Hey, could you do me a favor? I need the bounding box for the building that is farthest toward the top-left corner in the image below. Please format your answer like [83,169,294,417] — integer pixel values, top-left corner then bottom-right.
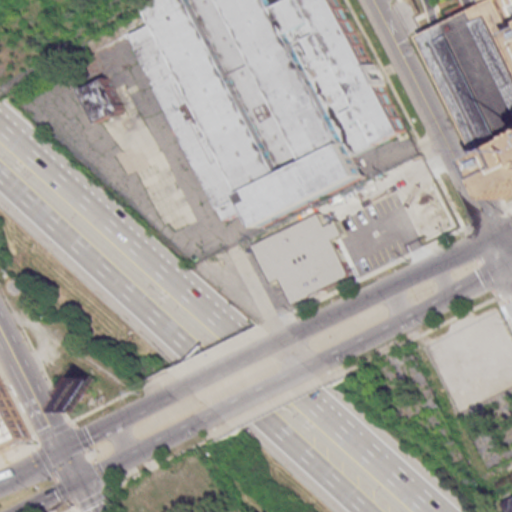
[78,76,120,122]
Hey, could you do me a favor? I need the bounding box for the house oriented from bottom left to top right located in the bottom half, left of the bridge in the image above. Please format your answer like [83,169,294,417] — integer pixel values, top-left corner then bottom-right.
[45,375,90,412]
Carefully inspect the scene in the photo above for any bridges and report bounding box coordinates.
[146,316,342,438]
